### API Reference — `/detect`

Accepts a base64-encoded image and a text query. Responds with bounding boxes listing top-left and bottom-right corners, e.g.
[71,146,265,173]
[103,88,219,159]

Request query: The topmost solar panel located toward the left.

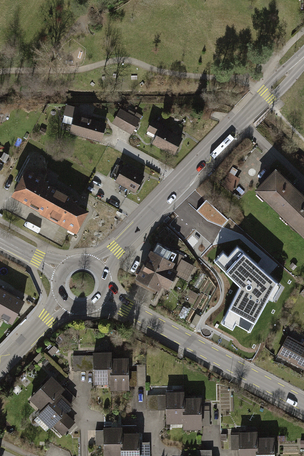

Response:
[94,370,108,384]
